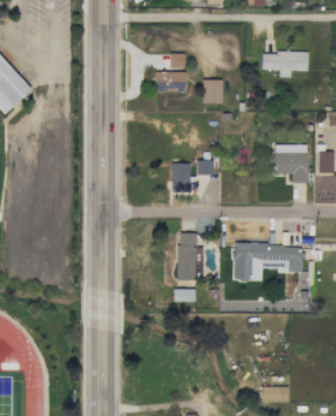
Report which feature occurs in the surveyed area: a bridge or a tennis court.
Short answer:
bridge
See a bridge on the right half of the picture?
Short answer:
No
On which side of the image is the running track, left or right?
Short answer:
left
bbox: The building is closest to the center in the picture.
[172,162,190,192]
